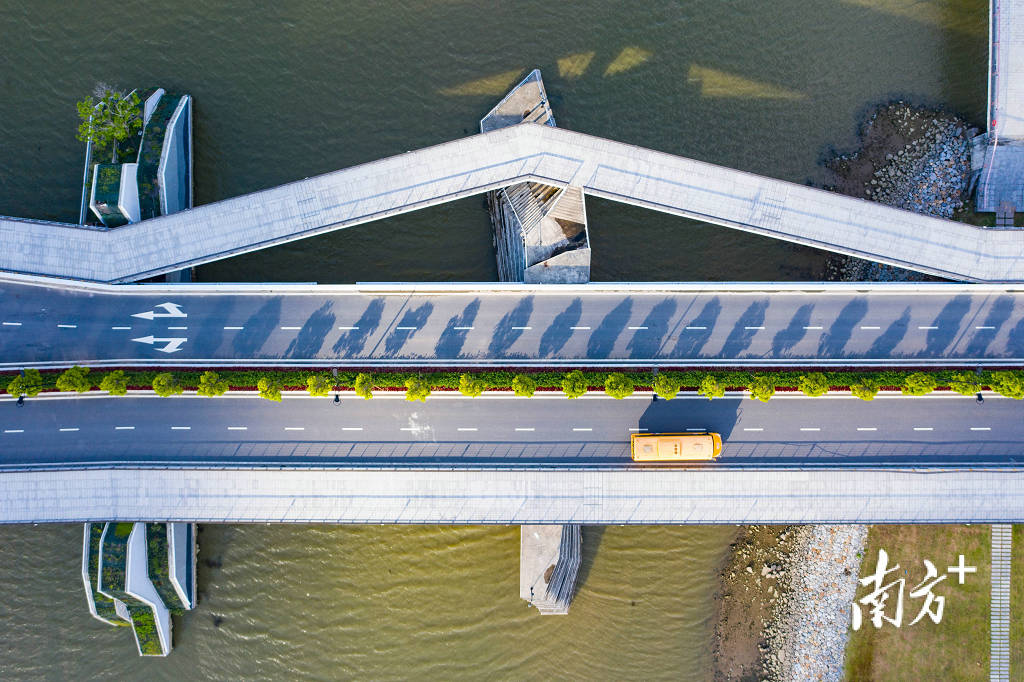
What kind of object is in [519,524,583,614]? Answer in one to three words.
pier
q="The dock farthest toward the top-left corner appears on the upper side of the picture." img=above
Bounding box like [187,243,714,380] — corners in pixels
[81,89,195,226]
